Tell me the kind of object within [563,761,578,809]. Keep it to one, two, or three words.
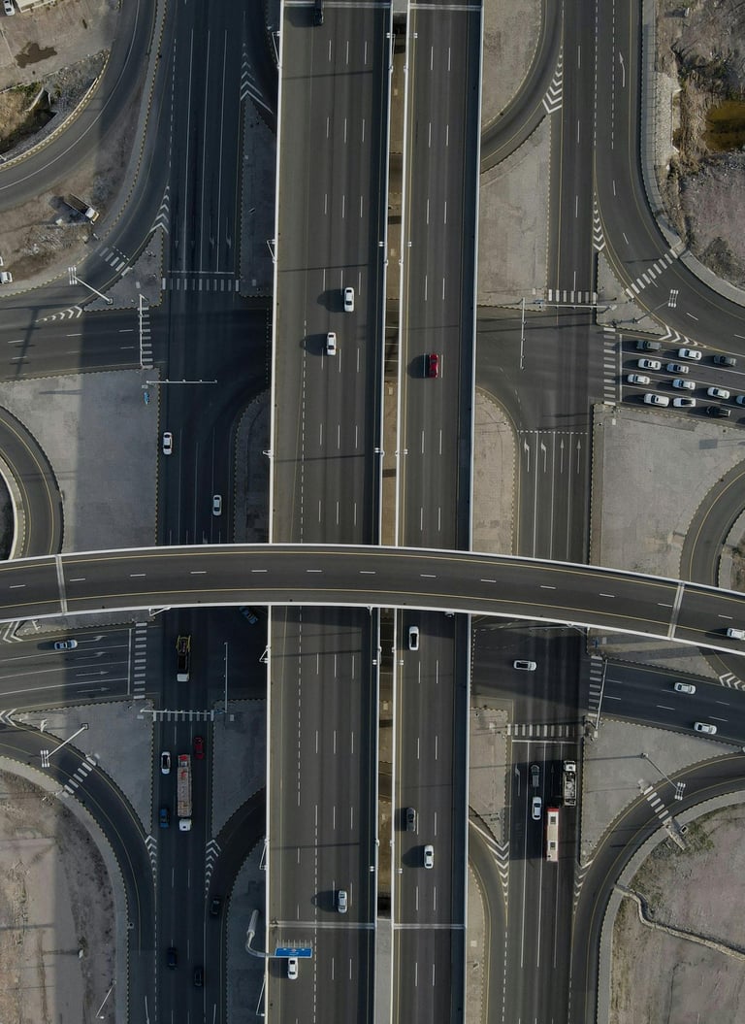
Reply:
vehicle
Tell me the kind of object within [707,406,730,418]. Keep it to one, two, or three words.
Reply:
vehicle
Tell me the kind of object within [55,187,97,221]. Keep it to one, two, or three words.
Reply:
truck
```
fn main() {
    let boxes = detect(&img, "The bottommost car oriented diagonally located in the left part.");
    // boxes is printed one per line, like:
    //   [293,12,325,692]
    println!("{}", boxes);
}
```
[240,604,258,624]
